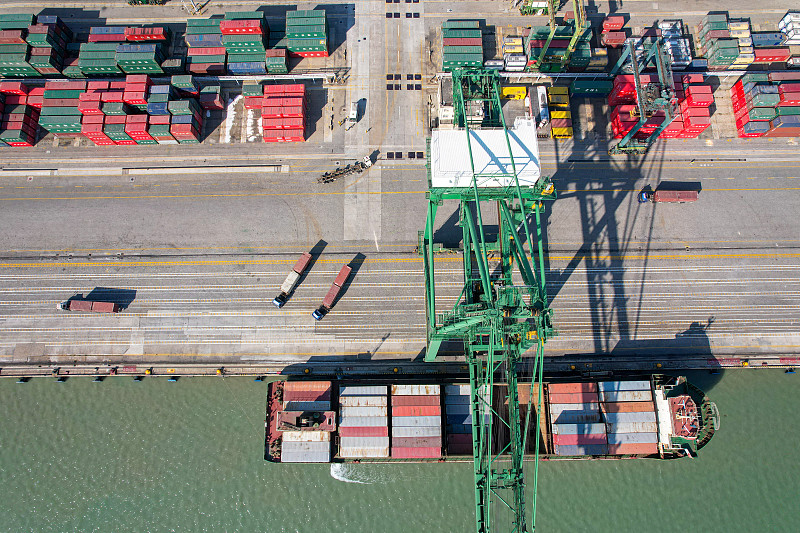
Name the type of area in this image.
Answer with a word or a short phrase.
port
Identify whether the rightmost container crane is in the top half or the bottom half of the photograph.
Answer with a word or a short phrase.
top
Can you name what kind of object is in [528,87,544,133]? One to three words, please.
vehicle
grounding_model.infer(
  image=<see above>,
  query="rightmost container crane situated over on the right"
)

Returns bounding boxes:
[603,32,688,154]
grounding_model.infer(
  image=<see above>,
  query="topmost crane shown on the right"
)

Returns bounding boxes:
[524,0,587,73]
